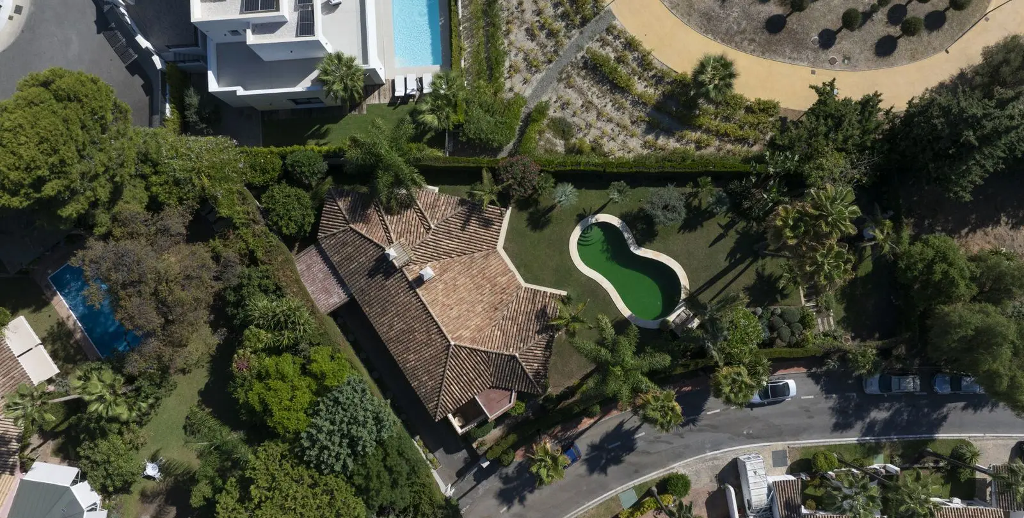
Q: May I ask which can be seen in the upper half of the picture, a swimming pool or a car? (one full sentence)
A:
The one visible in the upper half of the picture is a swimming pool.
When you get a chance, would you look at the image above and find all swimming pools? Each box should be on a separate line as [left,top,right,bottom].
[568,212,692,329]
[390,0,446,70]
[46,249,140,361]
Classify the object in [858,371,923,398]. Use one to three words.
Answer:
car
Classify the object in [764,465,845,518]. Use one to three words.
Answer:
house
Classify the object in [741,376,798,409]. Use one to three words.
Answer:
car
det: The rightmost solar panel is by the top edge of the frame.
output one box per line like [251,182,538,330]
[298,8,316,37]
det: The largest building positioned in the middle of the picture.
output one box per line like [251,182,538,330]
[317,184,568,436]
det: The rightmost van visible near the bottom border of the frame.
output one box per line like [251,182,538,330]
[738,449,773,518]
